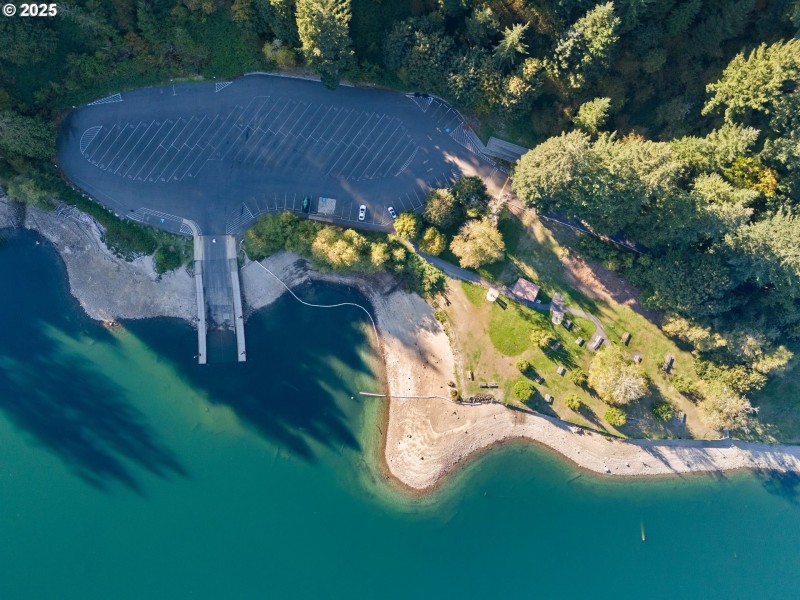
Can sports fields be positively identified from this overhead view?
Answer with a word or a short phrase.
No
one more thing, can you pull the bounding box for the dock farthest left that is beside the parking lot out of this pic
[194,235,206,364]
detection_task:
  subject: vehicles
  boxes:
[359,204,366,221]
[302,195,309,211]
[387,205,396,220]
